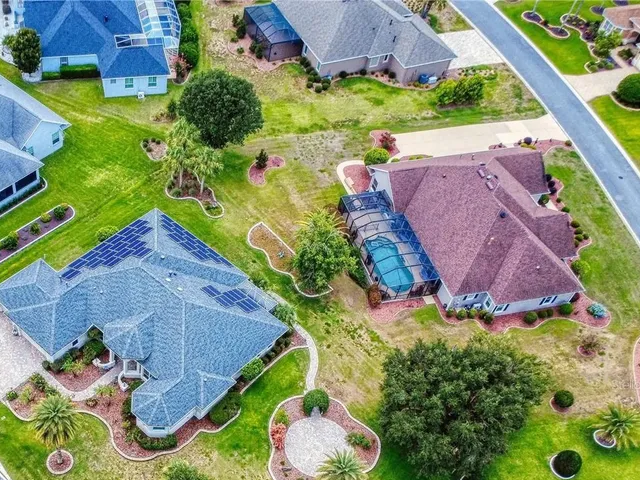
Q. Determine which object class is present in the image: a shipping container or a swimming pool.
swimming pool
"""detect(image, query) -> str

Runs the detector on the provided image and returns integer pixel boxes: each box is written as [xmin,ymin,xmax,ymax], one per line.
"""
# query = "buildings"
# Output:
[23,0,172,95]
[597,1,640,71]
[365,150,586,316]
[0,75,72,208]
[0,208,289,436]
[272,0,458,84]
